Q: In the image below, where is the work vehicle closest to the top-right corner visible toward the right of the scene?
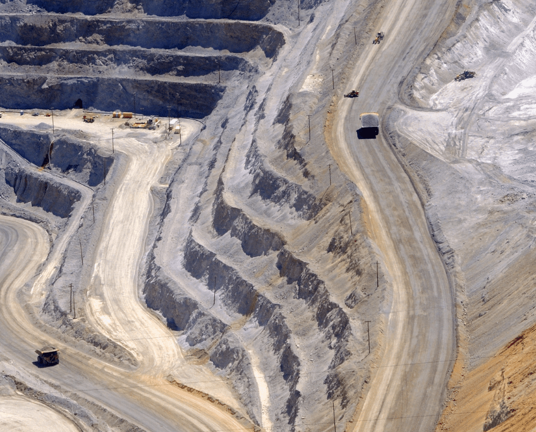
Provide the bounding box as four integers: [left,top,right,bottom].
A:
[449,67,478,84]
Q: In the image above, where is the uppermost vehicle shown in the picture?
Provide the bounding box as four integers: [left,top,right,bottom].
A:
[369,28,388,46]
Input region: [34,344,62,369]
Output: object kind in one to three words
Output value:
truck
